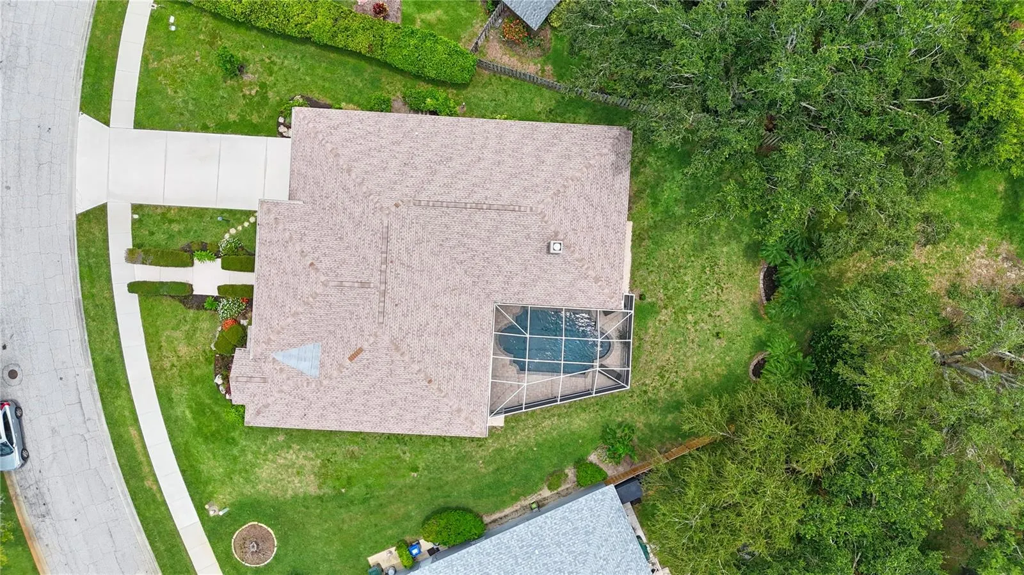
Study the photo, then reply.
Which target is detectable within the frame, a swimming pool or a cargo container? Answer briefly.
swimming pool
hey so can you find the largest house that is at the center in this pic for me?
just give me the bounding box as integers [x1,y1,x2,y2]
[229,105,632,439]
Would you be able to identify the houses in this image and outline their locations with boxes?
[497,0,562,36]
[394,479,653,575]
[229,105,632,439]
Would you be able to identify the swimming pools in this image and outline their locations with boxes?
[494,306,616,379]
